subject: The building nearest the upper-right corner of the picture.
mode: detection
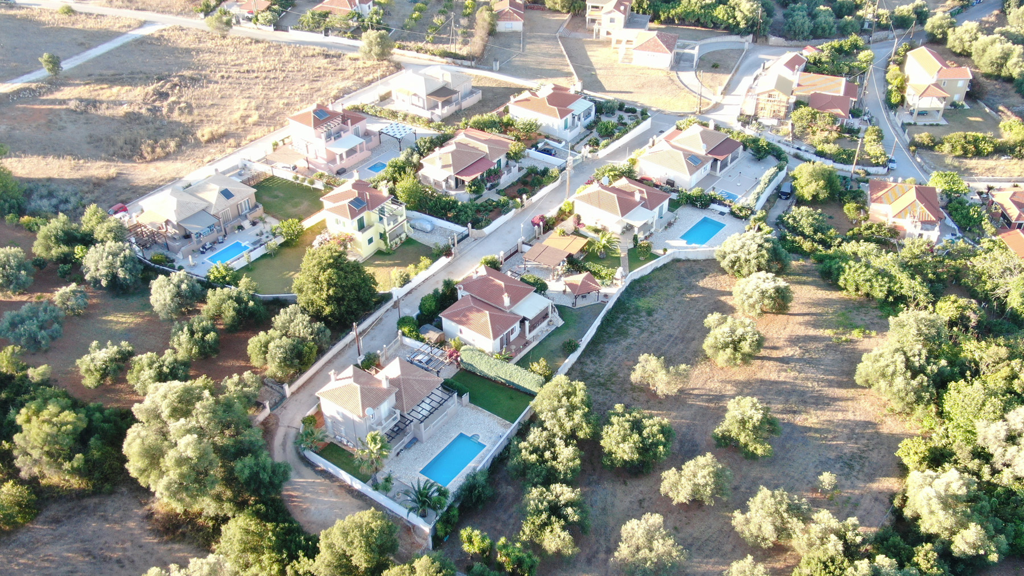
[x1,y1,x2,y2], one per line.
[901,41,972,120]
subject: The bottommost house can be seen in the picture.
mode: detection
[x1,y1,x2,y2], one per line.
[315,355,458,456]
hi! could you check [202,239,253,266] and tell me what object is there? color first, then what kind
blue swimming pool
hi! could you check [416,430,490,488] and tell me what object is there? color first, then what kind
blue swimming pool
